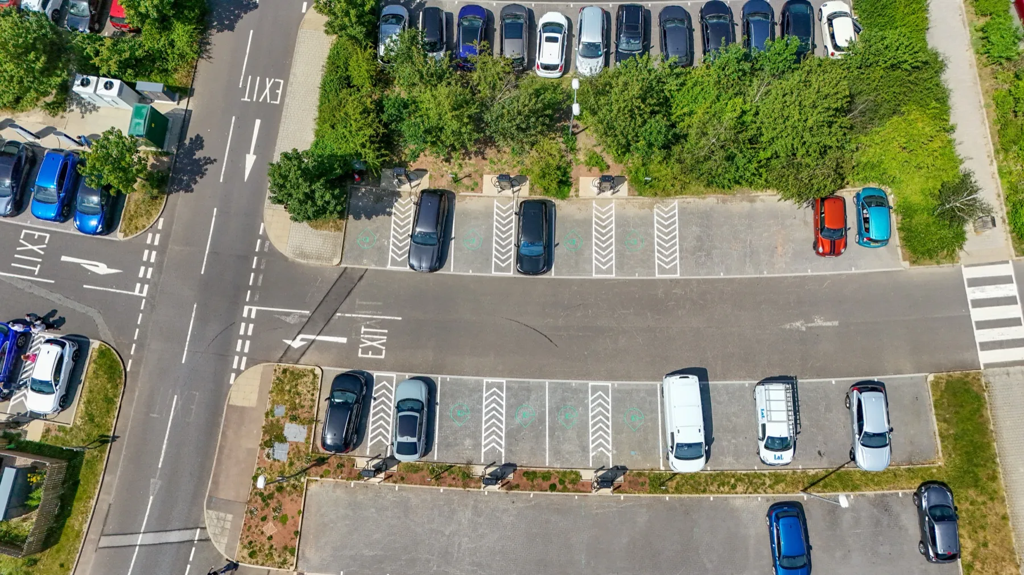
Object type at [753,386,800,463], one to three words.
van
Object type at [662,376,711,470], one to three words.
van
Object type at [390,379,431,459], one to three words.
car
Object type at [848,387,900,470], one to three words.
car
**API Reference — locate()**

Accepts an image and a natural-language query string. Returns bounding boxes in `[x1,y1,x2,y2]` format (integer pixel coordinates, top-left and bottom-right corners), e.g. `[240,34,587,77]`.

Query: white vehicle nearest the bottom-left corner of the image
[24,340,80,411]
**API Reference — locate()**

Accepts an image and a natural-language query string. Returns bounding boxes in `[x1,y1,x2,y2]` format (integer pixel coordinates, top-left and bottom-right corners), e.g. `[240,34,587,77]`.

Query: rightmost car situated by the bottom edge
[910,484,967,562]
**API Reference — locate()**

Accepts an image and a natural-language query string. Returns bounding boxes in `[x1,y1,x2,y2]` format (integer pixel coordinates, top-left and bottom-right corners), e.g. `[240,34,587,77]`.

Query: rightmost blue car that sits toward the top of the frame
[851,190,895,246]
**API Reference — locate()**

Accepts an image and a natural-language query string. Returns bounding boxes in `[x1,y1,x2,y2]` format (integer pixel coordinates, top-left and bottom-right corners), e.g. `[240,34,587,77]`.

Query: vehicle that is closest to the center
[513,201,552,274]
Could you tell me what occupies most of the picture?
paved ground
